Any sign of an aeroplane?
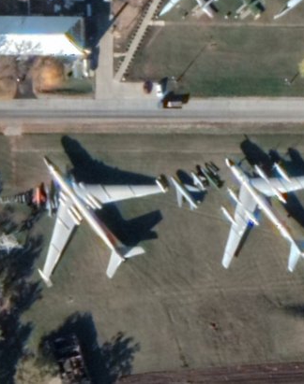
Yes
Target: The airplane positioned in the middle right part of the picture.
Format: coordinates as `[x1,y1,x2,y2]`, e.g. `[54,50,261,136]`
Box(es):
[214,158,304,270]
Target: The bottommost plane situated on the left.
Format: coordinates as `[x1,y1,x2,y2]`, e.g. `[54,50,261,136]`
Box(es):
[37,157,166,283]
